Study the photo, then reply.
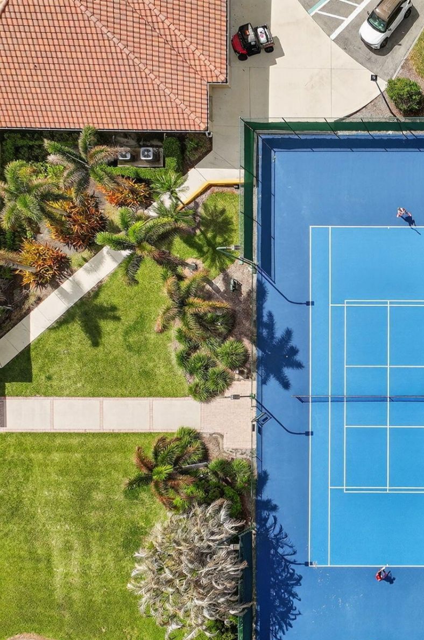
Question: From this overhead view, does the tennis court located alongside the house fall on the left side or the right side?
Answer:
right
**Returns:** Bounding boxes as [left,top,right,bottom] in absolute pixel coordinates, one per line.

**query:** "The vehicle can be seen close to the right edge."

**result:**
[361,0,417,47]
